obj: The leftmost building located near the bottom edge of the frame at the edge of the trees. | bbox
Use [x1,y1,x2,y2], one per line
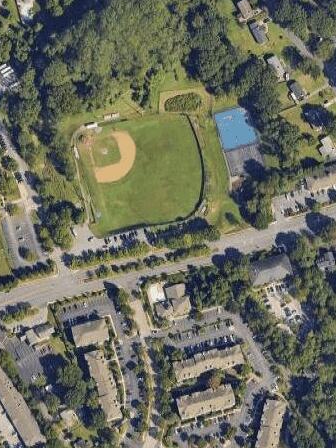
[0,370,42,448]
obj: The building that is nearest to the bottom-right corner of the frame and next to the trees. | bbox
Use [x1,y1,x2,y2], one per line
[258,401,283,448]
